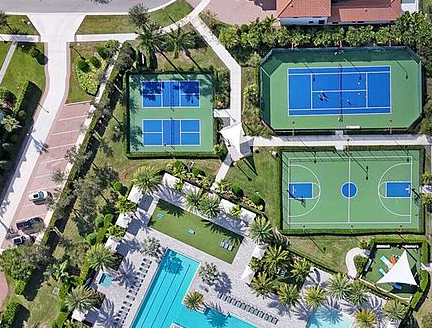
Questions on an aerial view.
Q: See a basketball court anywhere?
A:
Yes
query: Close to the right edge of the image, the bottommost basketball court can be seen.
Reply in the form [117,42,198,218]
[281,151,420,231]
